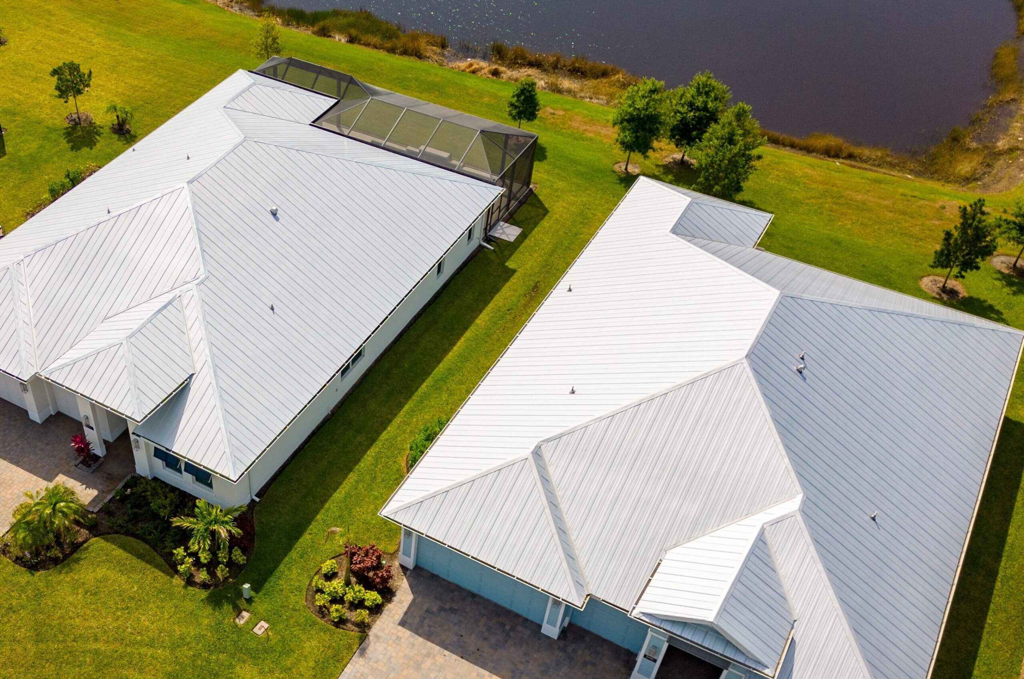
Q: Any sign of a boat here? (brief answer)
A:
No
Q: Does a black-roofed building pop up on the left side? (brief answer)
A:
No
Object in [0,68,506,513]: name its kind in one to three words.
house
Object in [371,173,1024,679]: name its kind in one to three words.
house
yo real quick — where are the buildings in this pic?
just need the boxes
[371,173,1024,679]
[0,68,506,513]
